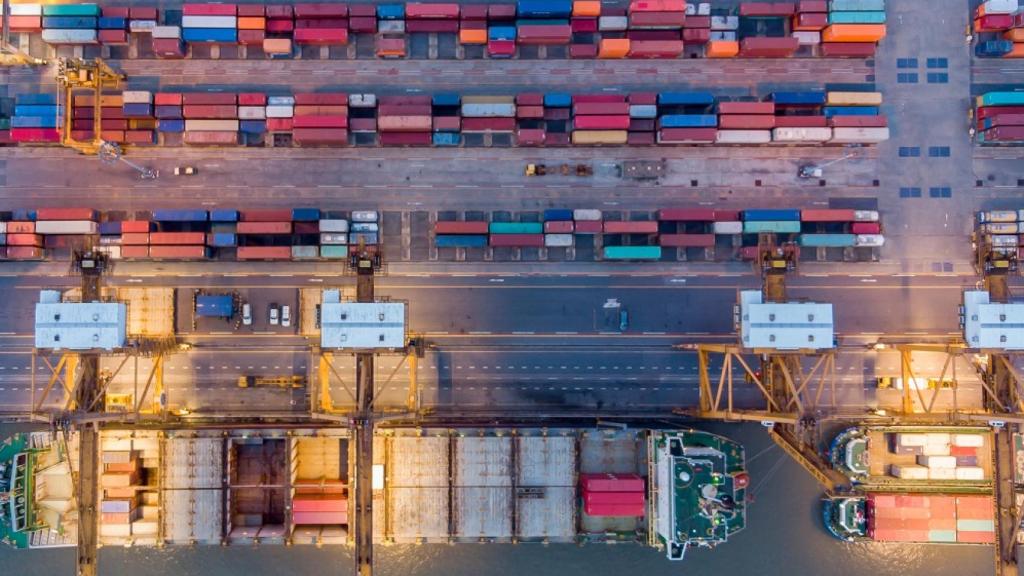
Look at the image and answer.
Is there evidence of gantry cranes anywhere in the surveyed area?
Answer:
Yes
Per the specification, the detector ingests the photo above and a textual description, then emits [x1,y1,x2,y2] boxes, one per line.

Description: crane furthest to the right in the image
[874,233,1024,576]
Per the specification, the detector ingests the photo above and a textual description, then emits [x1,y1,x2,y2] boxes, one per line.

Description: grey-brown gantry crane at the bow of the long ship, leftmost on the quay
[29,233,189,576]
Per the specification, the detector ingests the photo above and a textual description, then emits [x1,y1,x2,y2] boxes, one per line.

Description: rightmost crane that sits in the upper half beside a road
[58,56,127,154]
